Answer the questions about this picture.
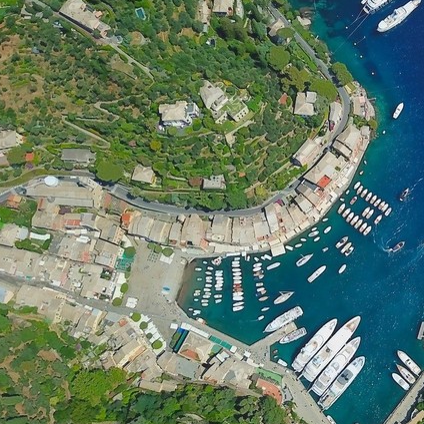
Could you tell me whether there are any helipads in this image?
No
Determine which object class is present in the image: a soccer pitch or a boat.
boat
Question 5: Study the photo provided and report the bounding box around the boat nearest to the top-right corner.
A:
[374,0,421,34]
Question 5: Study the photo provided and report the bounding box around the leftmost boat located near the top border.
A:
[341,0,387,41]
